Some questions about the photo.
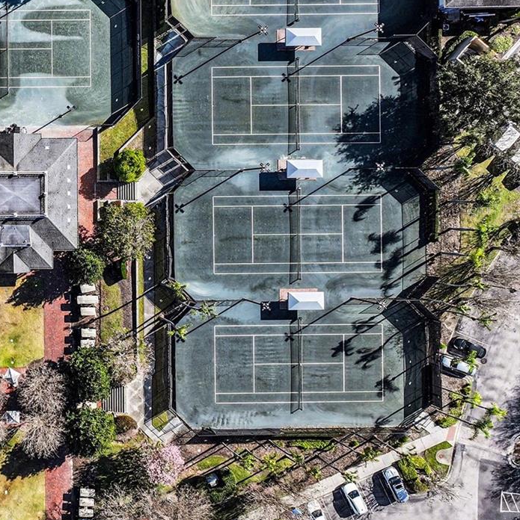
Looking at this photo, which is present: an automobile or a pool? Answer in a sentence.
This aerial view contains an automobile.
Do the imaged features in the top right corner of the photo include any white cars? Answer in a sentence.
No, no white car appears in the top right corner of the photo.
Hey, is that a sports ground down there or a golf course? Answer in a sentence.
This looks like a sports ground.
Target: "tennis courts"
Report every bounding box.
[174,299,439,429]
[171,39,432,169]
[171,0,430,39]
[172,169,436,299]
[0,0,139,129]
